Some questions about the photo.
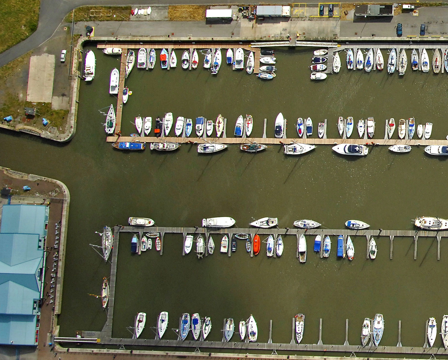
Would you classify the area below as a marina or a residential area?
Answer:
marina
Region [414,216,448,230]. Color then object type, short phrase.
white boat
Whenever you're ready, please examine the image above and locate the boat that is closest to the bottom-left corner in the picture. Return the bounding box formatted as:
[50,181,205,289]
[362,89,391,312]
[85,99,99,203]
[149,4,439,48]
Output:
[91,279,110,308]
